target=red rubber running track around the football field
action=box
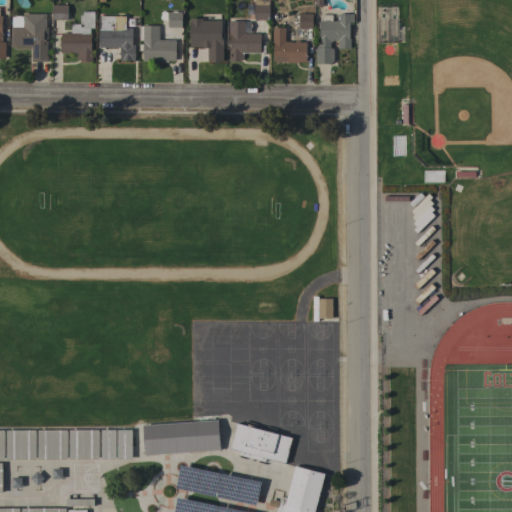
[430,302,512,512]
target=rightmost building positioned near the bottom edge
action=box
[284,466,326,512]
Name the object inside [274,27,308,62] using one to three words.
house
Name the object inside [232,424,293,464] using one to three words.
building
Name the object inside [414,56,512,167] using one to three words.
baseball field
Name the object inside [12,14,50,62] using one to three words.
house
